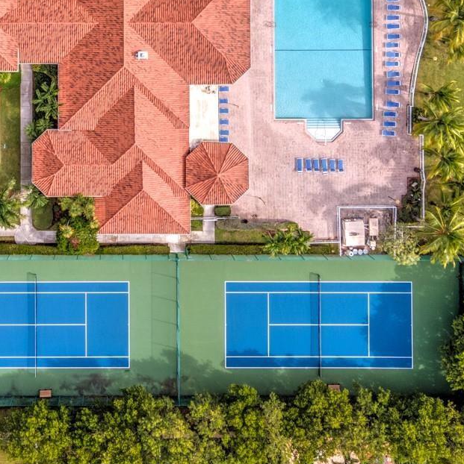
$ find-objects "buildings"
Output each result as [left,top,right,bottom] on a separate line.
[0,0,251,235]
[344,219,370,251]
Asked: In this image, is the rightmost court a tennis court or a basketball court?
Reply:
tennis court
